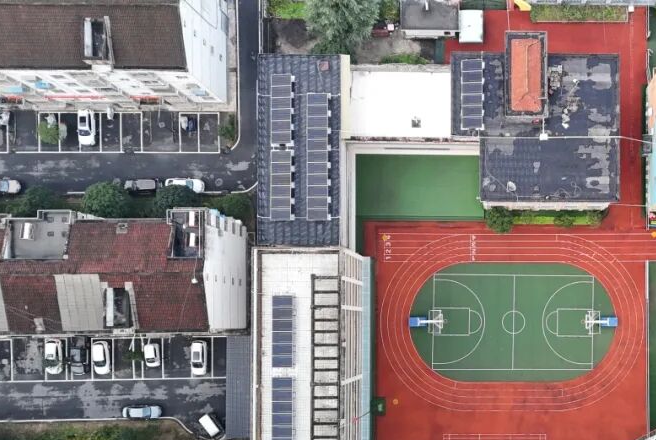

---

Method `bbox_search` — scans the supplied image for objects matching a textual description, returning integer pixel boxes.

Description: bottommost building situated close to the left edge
[0,204,247,334]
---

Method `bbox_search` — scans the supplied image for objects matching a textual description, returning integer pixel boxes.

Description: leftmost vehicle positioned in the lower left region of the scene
[43,338,64,376]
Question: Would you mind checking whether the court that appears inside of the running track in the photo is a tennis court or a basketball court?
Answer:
basketball court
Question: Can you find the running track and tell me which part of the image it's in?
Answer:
bottom right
